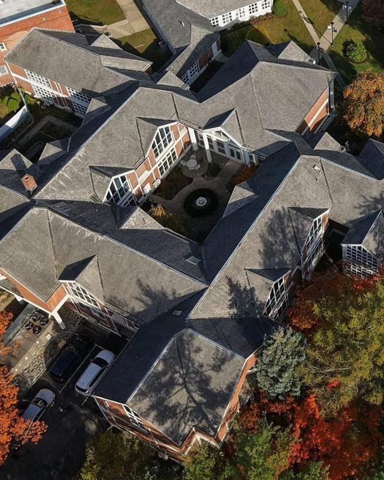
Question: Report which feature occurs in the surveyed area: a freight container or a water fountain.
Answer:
water fountain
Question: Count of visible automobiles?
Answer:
three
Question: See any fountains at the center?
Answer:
Yes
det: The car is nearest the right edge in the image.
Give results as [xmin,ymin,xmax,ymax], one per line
[71,350,117,398]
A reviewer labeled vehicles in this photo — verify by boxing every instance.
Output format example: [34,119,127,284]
[13,391,55,439]
[44,341,88,387]
[71,350,117,398]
